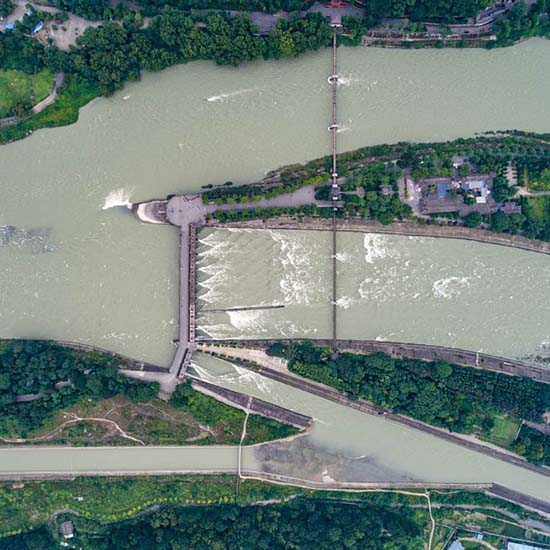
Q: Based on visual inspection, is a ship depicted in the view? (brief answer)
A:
No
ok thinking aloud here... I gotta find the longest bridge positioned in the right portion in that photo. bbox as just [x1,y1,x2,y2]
[327,9,343,360]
